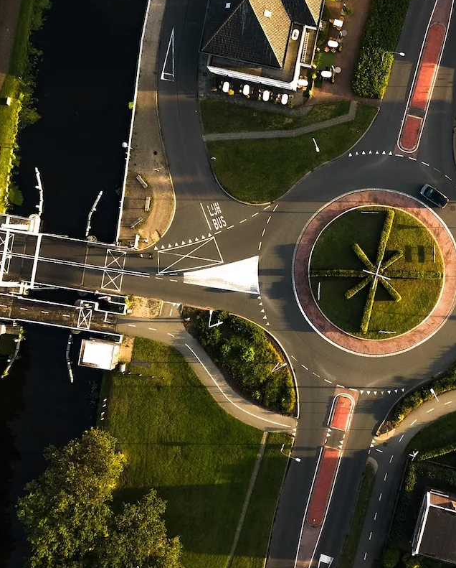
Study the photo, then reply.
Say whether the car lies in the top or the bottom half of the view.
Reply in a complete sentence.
You can find the car in the top half.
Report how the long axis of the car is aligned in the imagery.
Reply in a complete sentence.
The car is oriented on a diagonal.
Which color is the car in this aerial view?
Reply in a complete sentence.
The car looks black in the image.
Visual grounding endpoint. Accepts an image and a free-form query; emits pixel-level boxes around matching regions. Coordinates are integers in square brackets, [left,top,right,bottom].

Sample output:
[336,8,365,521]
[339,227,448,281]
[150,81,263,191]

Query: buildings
[199,0,325,88]
[415,484,456,564]
[78,338,125,370]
